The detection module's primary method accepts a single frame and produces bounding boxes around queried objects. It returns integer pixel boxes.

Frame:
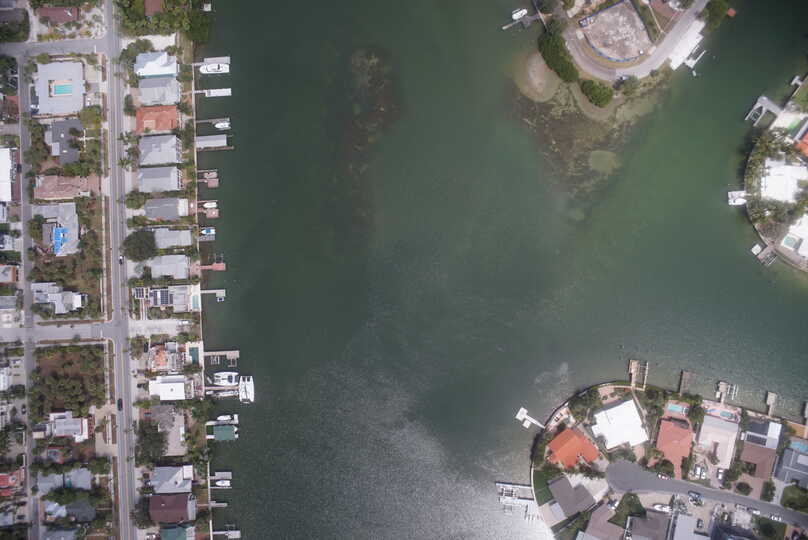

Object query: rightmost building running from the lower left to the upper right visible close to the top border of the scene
[668,21,705,72]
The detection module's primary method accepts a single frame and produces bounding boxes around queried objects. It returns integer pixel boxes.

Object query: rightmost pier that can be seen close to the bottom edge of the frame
[495,482,538,515]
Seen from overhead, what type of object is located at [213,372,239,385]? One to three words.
boat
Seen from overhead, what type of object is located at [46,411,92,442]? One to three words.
house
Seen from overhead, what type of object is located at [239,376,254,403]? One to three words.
boat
